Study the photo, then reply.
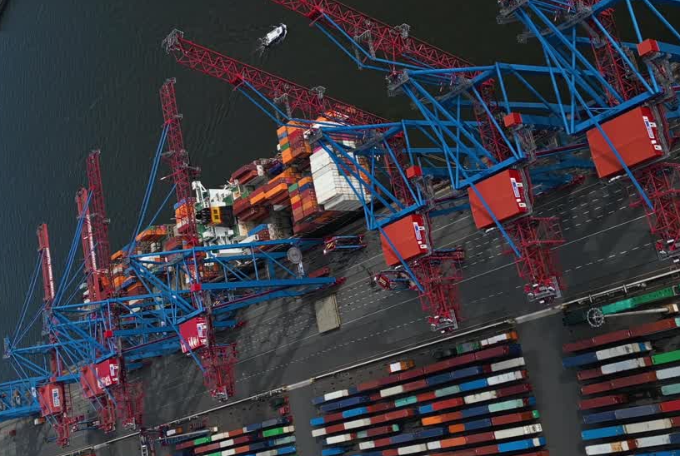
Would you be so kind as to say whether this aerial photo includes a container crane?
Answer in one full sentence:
Yes, this view includes a container crane.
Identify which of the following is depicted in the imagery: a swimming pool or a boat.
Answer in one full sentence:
The image shows a boat.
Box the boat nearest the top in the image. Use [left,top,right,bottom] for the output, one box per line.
[258,26,284,51]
